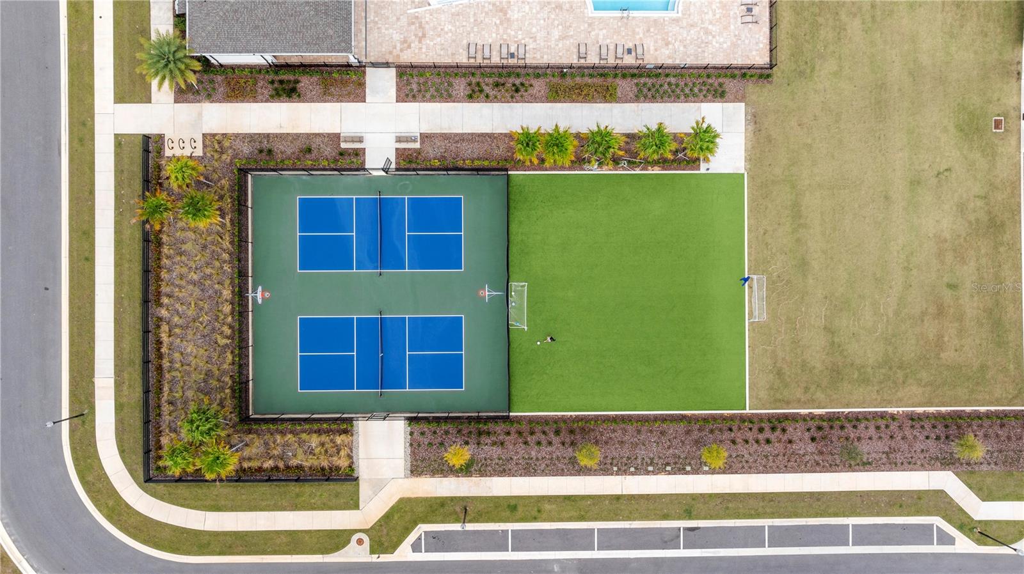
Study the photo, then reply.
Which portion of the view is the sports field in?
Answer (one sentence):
The sports field appears toward the right of the photo.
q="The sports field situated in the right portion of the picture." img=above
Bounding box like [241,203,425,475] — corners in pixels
[511,171,1024,415]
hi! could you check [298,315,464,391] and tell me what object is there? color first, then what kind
blue sports court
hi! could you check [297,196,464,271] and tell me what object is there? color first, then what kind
blue sports court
